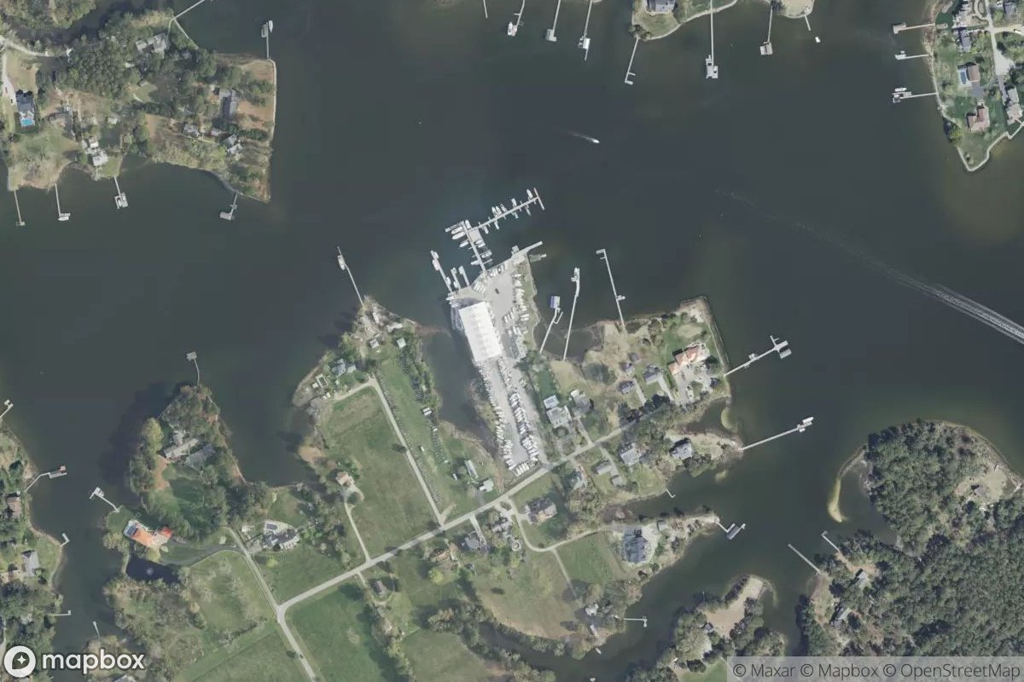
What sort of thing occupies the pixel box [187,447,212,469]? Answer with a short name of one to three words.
house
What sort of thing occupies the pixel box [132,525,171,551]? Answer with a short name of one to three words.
house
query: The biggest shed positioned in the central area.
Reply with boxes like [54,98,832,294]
[459,301,501,362]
